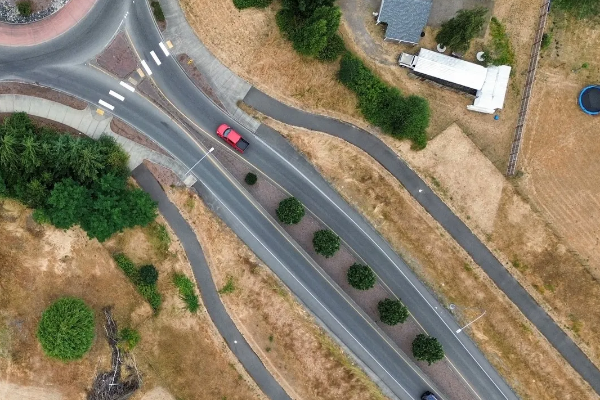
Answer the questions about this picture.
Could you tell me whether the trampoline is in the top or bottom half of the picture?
top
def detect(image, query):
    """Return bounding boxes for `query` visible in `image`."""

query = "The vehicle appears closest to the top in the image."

[398,53,418,69]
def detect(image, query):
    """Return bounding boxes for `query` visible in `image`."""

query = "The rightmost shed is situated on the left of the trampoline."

[468,66,511,111]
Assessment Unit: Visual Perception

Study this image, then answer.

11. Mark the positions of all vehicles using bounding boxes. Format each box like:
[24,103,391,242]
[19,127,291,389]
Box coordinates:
[398,53,418,69]
[217,124,250,152]
[420,389,439,400]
